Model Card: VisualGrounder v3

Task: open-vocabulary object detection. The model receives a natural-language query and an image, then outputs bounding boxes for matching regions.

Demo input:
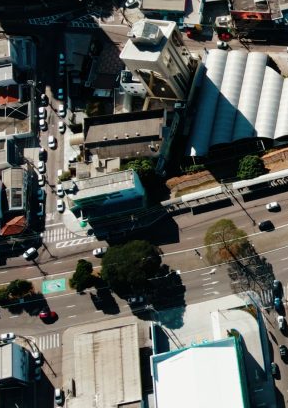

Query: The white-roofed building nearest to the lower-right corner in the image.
[153,339,261,408]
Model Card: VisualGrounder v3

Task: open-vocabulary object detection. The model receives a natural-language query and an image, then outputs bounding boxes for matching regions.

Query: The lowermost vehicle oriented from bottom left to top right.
[21,246,40,261]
